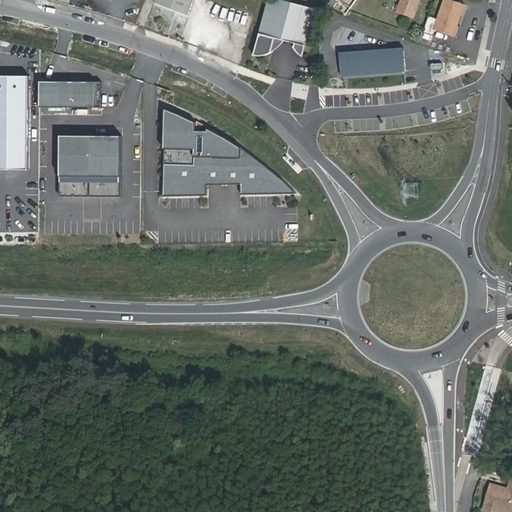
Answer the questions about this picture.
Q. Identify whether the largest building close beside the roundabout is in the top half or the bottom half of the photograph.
top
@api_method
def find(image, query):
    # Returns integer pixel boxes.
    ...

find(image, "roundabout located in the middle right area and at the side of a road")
[262,183,512,425]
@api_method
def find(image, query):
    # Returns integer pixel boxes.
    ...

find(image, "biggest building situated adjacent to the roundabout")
[162,110,300,206]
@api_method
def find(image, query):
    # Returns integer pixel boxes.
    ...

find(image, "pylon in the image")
[401,176,420,203]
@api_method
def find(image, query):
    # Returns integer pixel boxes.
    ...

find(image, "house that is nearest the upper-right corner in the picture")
[433,0,469,38]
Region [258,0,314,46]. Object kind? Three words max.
building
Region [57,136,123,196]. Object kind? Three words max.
building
